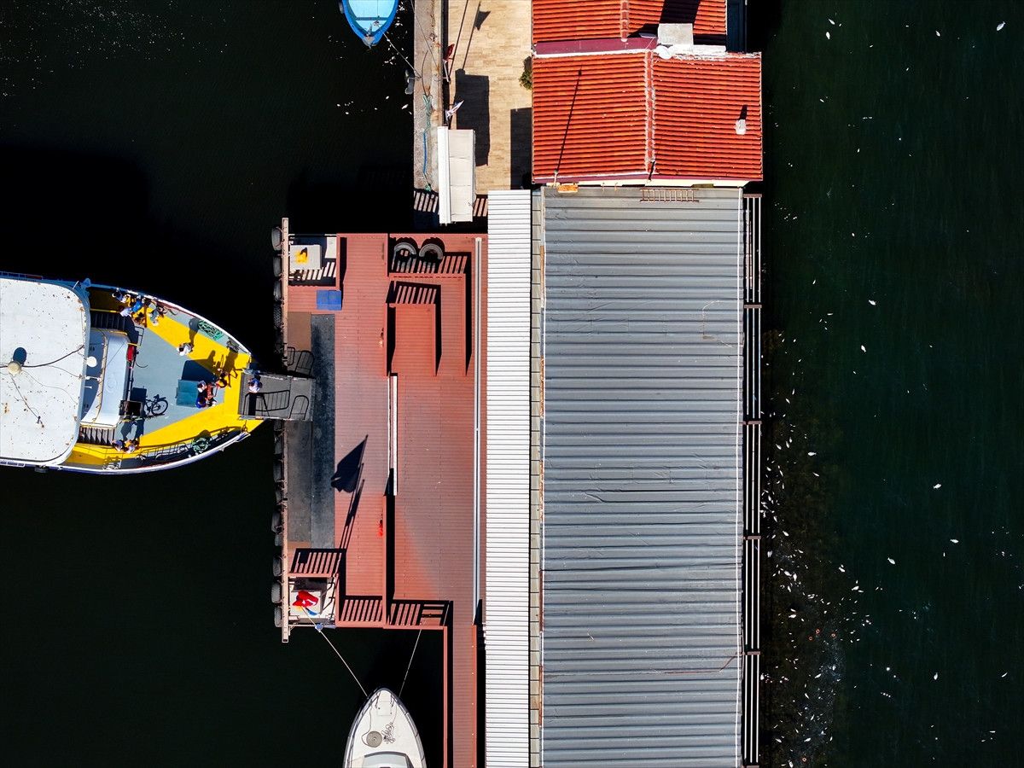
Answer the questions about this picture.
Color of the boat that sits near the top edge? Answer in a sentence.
From above, the boat that sits near the top edge appears blue.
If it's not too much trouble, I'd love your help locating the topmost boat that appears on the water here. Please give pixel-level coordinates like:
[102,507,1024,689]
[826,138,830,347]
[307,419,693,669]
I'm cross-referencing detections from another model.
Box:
[338,0,398,50]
